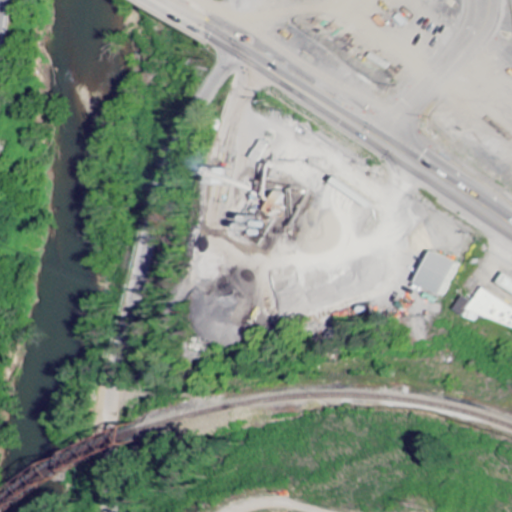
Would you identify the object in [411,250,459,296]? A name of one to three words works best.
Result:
shed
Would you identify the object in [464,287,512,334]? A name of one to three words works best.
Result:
building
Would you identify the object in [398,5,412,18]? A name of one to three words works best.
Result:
vehicle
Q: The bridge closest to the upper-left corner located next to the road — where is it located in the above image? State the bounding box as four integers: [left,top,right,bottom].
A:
[128,0,212,42]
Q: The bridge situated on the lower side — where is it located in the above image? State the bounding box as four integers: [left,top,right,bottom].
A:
[0,422,127,504]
